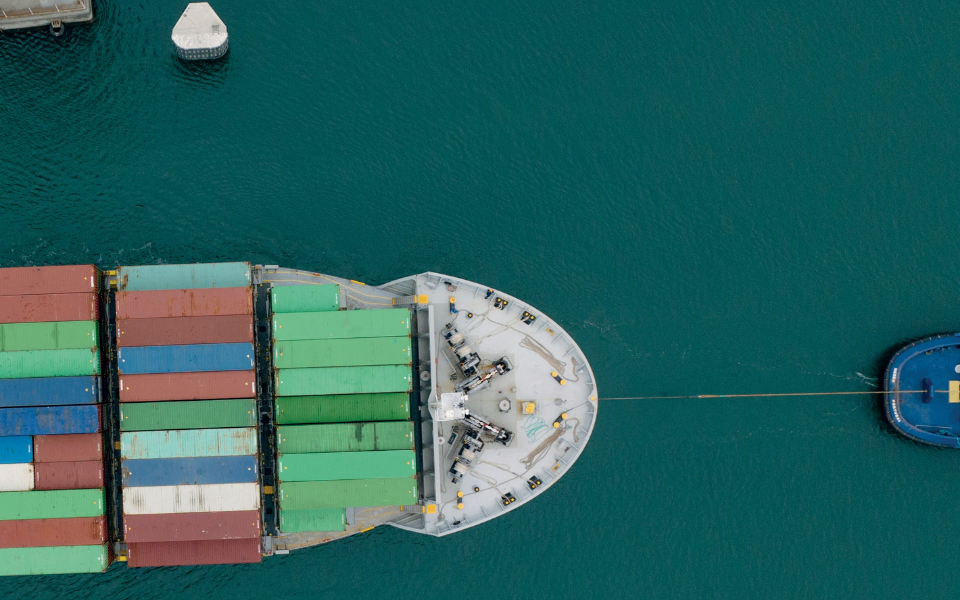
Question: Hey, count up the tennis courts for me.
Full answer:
There are no tennis courts in this view.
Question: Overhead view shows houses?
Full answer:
No, there appears to be no house in this shot.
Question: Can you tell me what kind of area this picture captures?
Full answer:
This image shows a port.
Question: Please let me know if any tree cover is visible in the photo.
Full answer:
No, there is no tree cover in the image.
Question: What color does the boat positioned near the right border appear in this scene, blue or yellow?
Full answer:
The color of the boat positioned near the right border is blue.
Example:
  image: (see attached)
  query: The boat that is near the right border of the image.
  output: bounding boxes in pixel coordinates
[881,334,960,447]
